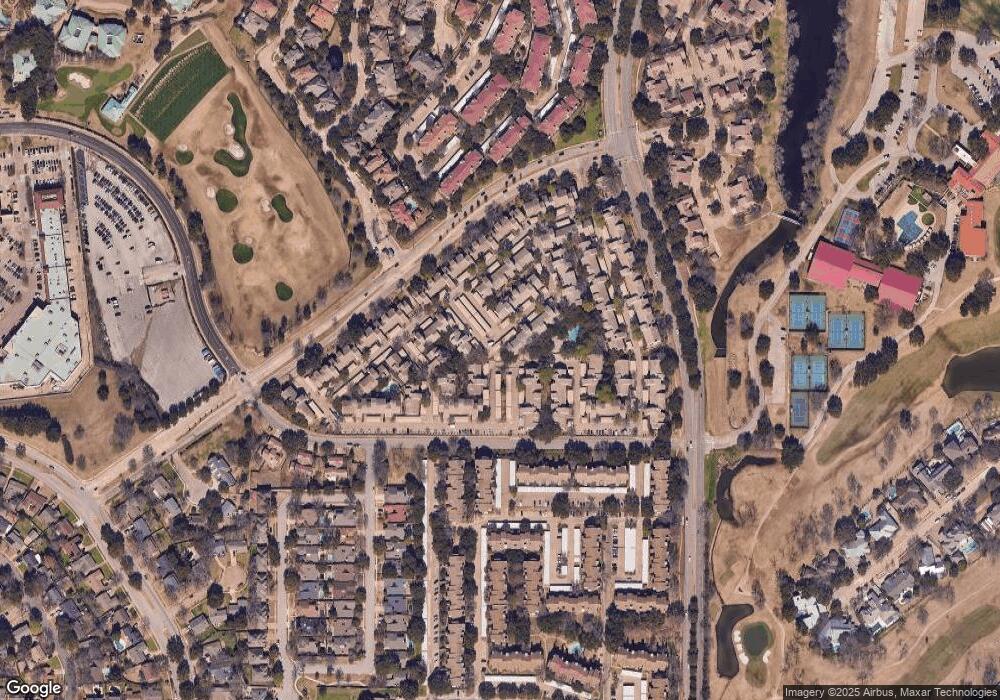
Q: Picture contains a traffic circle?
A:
No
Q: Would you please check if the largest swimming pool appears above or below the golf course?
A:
above it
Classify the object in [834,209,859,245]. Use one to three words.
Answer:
sports court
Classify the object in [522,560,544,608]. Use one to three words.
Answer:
building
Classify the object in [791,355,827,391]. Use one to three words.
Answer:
tennis court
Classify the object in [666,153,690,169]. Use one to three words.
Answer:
house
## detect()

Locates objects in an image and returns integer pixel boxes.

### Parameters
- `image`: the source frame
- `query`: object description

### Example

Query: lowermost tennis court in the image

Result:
[791,392,809,428]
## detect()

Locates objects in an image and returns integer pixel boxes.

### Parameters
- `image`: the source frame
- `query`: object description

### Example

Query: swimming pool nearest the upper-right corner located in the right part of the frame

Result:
[889,185,943,249]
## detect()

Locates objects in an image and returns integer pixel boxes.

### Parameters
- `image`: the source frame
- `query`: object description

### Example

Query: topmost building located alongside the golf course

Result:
[960,200,987,256]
